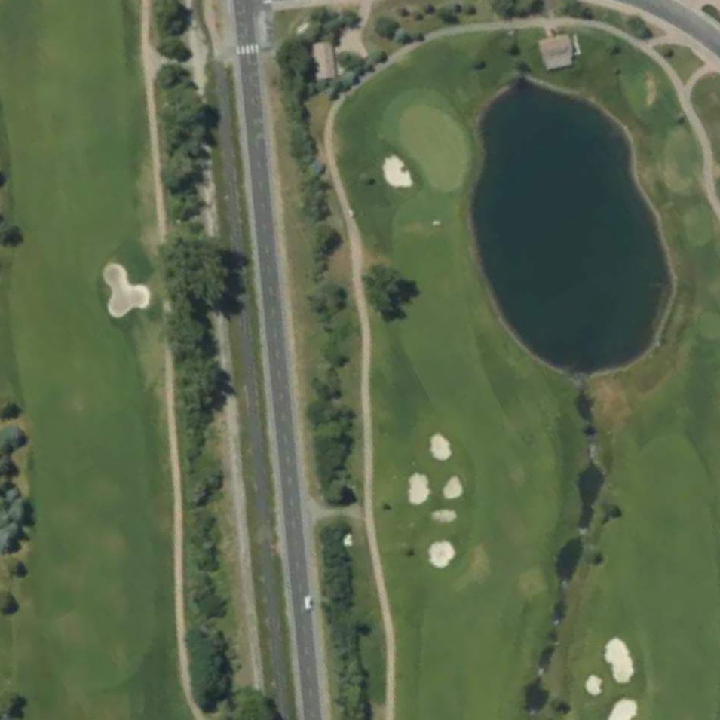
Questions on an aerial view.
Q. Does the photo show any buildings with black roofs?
No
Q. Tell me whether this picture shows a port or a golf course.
golf course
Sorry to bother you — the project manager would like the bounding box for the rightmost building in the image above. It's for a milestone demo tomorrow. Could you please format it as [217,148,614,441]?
[539,33,575,70]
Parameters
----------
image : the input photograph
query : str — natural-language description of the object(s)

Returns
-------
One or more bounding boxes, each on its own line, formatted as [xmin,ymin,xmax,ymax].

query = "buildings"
[312,41,336,79]
[539,33,575,70]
